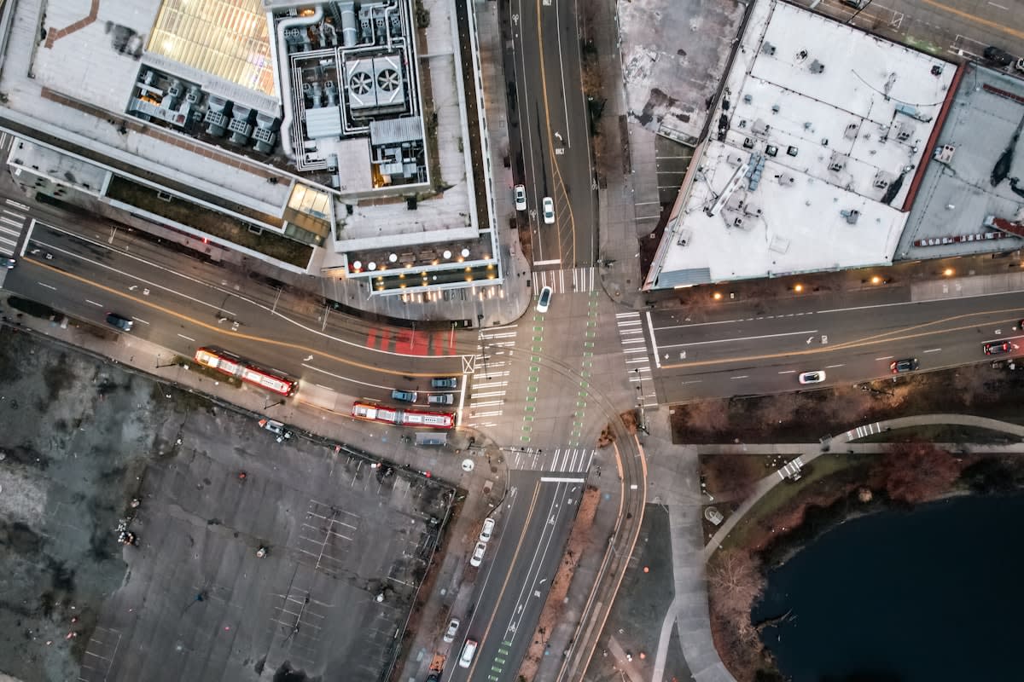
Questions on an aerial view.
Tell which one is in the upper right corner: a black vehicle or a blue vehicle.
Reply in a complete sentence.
There is a black vehicle in the upper right corner.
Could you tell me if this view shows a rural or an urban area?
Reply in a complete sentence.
This place is urban.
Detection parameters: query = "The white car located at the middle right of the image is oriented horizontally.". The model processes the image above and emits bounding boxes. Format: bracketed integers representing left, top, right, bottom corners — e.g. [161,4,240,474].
[798,370,826,383]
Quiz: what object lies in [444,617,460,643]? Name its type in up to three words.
car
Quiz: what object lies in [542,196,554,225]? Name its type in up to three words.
vehicle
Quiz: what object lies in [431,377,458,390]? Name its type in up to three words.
vehicle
